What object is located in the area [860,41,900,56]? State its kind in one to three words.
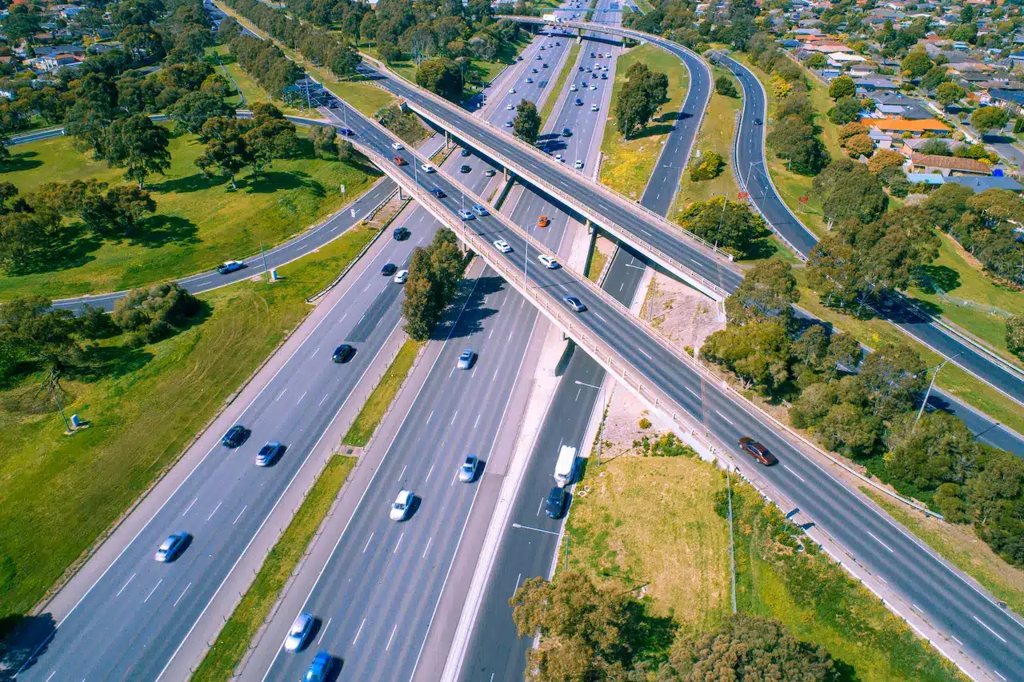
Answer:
house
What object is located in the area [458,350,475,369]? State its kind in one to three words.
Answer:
car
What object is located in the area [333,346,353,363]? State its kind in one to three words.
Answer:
car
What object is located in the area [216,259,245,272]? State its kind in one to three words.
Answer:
vehicle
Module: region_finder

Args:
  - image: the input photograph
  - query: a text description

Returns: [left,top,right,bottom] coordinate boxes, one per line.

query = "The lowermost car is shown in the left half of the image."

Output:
[303,648,335,682]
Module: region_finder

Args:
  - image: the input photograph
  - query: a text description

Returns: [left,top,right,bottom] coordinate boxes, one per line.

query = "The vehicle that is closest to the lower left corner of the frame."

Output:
[152,532,189,566]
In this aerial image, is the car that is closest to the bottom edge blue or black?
blue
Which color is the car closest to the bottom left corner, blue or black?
blue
